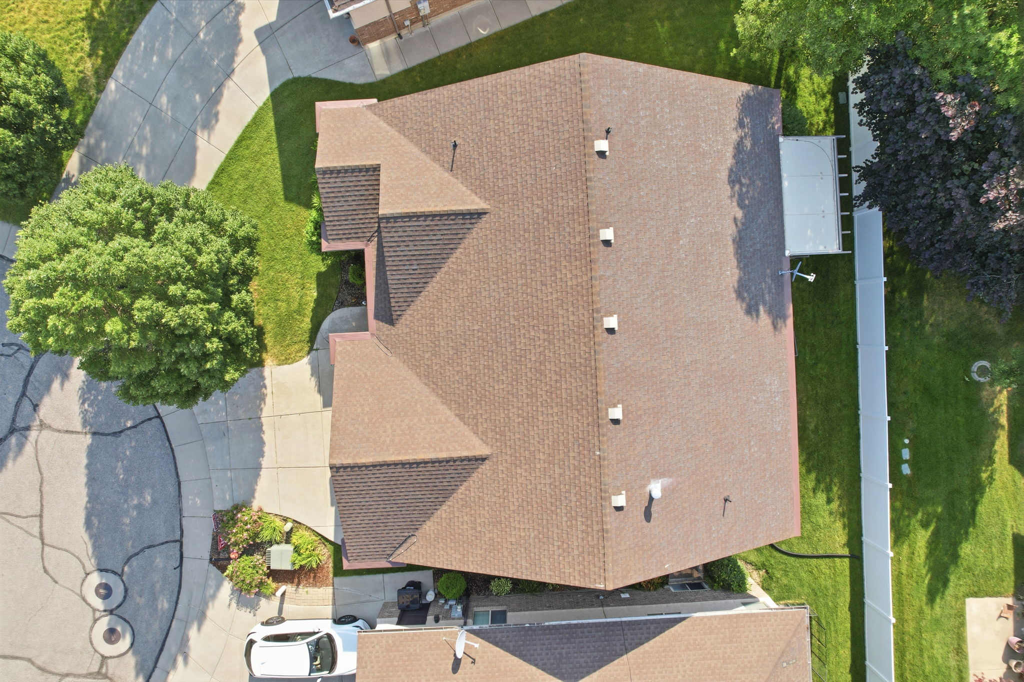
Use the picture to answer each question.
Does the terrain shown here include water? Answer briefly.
No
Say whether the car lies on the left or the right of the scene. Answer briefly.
left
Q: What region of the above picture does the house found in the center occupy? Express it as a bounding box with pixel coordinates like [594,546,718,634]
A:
[314,51,804,591]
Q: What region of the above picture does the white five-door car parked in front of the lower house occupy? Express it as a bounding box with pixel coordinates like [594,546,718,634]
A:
[245,616,371,682]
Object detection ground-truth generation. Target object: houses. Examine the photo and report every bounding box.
[356,585,813,682]
[322,0,488,49]
[314,51,804,591]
